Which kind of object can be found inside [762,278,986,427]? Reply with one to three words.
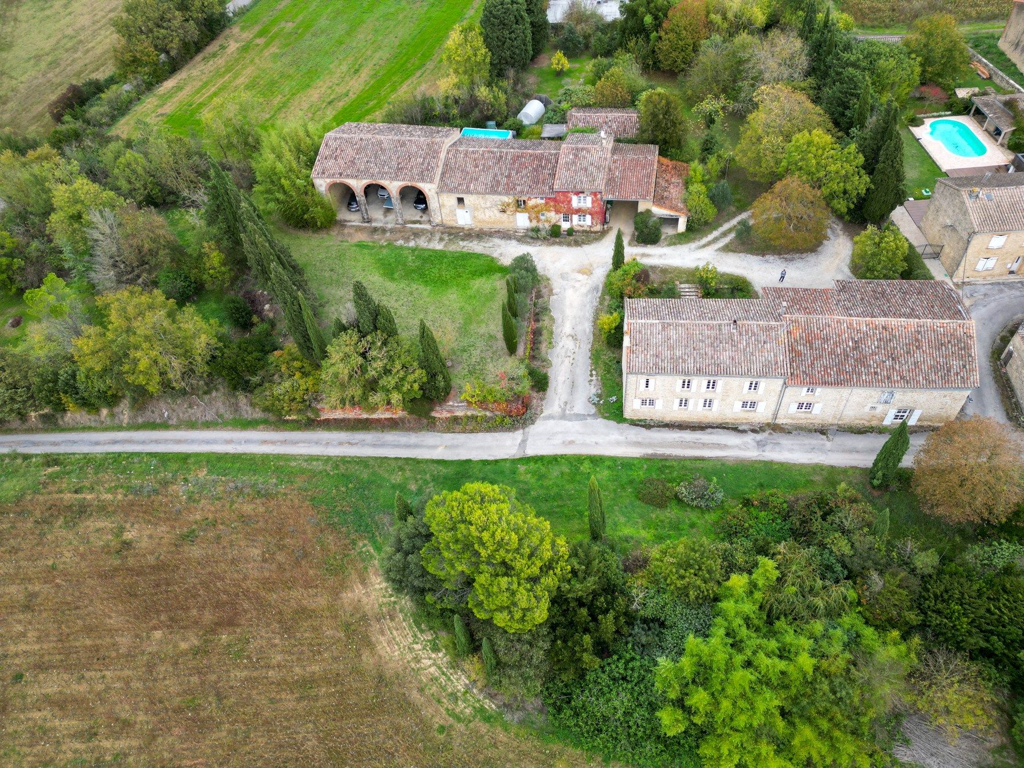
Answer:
house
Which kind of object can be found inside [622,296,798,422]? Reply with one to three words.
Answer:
house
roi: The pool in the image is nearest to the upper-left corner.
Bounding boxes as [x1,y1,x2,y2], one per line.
[460,127,515,139]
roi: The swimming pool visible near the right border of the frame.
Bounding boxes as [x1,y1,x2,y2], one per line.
[928,118,989,159]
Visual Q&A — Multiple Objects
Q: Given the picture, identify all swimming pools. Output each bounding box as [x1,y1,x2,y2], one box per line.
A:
[460,127,515,139]
[928,118,989,159]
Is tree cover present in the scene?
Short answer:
Yes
